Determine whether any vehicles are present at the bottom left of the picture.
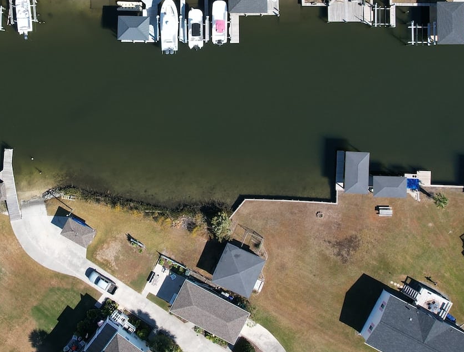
Yes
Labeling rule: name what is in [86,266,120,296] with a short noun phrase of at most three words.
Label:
vehicle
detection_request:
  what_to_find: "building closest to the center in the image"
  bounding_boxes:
[212,241,266,299]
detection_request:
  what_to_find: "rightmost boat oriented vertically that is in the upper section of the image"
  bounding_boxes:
[212,0,227,49]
